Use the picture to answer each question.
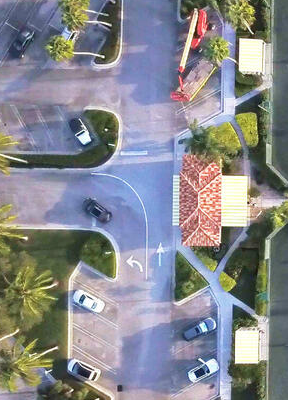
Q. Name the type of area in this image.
parking lot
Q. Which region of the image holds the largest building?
right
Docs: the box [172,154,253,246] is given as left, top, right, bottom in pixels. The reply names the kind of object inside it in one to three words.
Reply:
building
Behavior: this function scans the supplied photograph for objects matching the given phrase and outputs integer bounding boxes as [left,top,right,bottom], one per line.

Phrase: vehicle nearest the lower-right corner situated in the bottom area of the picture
[186,358,220,382]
